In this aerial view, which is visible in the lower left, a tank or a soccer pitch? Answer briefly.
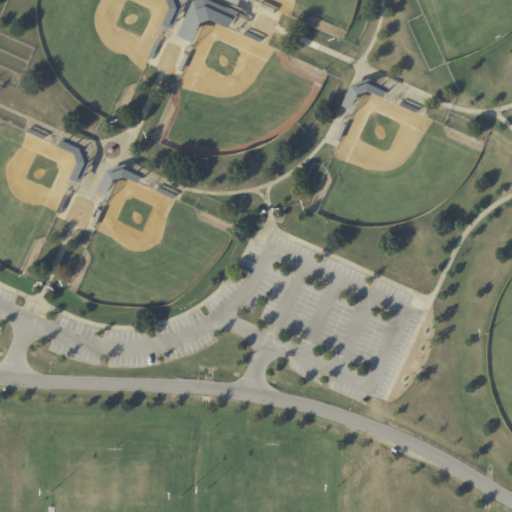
soccer pitch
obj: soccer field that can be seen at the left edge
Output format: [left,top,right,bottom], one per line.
[0,404,197,512]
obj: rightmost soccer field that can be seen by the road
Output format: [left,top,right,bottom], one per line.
[199,412,338,512]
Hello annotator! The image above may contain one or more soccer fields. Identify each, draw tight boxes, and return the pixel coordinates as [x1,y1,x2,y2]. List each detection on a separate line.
[199,412,338,512]
[0,404,197,512]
